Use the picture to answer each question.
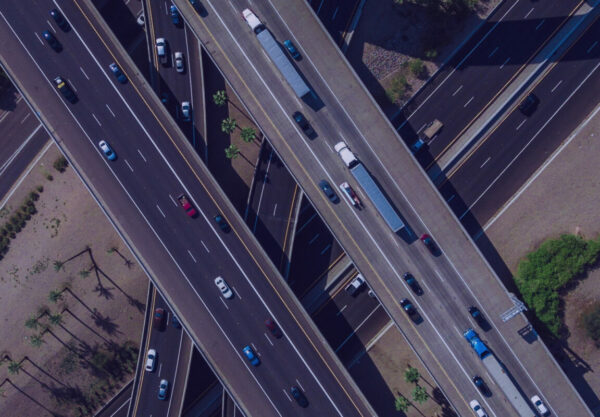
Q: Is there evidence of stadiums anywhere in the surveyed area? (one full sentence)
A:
No, no stadium is visible in the view.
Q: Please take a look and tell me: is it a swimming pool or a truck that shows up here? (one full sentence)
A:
Of the two, only a truck appears.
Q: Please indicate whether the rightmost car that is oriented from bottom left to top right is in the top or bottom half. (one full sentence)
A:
The top half of the photo is where the rightmost car that is oriented from bottom left to top right is.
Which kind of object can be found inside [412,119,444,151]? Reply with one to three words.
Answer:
truck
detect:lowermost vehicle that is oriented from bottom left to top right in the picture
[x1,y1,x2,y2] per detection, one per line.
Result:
[342,273,364,296]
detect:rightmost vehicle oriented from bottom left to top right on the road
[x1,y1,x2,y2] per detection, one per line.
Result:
[517,93,537,113]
